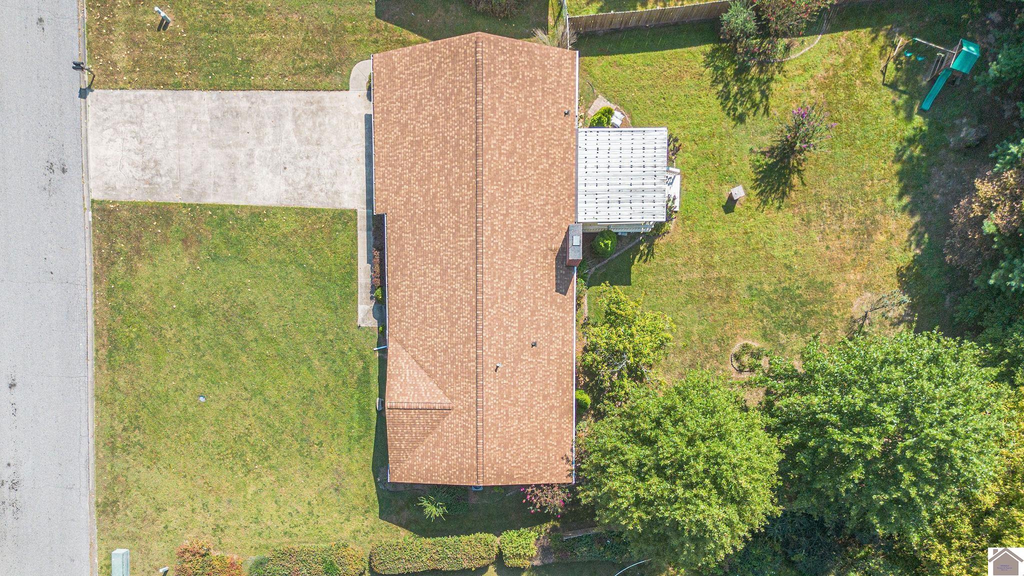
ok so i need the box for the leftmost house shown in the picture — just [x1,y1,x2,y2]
[371,33,582,485]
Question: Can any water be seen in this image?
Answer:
No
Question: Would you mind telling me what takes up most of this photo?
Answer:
grass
